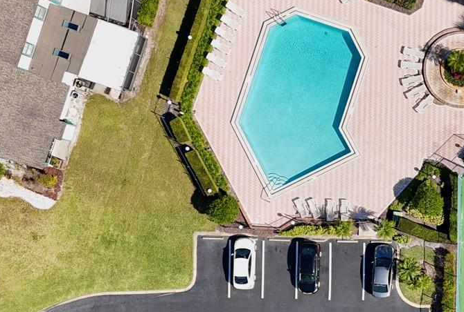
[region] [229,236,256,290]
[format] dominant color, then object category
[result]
white car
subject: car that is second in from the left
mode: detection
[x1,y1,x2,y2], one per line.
[295,240,321,294]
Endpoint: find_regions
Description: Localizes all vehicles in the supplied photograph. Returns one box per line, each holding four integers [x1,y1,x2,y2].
[370,242,395,298]
[295,240,321,294]
[229,236,256,290]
